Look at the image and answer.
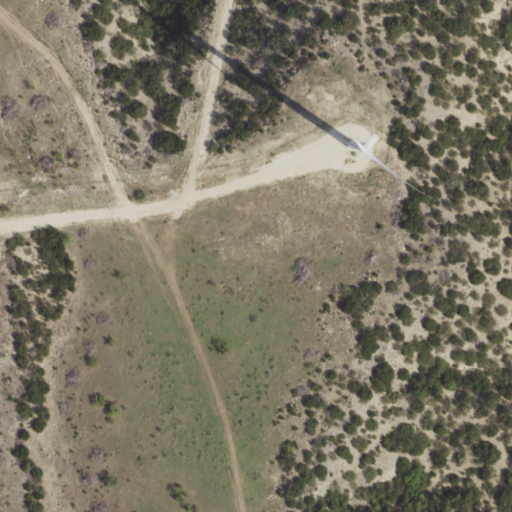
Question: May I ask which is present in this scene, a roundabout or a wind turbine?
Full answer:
Of the two, only a wind turbine appears.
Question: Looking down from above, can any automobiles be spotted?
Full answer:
No, this view has no automobile in it.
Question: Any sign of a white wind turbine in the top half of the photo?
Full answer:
Yes, looking in the top half of the photo, one can make out a white wind turbine.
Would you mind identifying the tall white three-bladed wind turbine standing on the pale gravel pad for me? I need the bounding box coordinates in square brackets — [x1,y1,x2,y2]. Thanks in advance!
[315,114,438,199]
